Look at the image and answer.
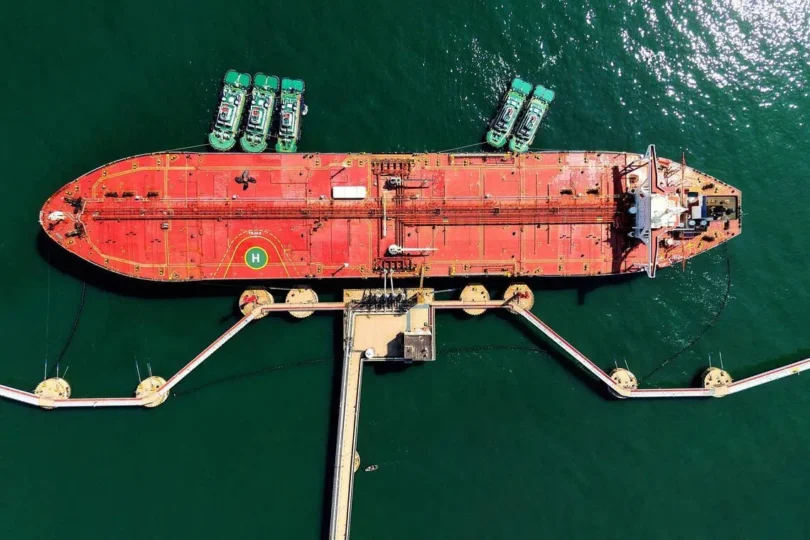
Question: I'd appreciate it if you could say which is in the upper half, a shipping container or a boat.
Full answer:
It is a boat that can be seen in the upper half.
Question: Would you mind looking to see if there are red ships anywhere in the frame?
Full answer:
Yes, there's a red ship down there.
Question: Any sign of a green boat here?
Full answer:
Yes, a green boat is visible in the scene.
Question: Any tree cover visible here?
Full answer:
No, no tree cover is visible.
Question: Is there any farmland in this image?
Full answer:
No, the picture contains no farmland.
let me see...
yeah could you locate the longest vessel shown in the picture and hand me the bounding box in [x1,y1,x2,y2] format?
[39,142,742,280]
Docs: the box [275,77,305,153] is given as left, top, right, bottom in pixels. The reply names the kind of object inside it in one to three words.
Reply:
boat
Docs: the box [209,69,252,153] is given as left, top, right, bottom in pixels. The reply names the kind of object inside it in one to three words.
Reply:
boat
